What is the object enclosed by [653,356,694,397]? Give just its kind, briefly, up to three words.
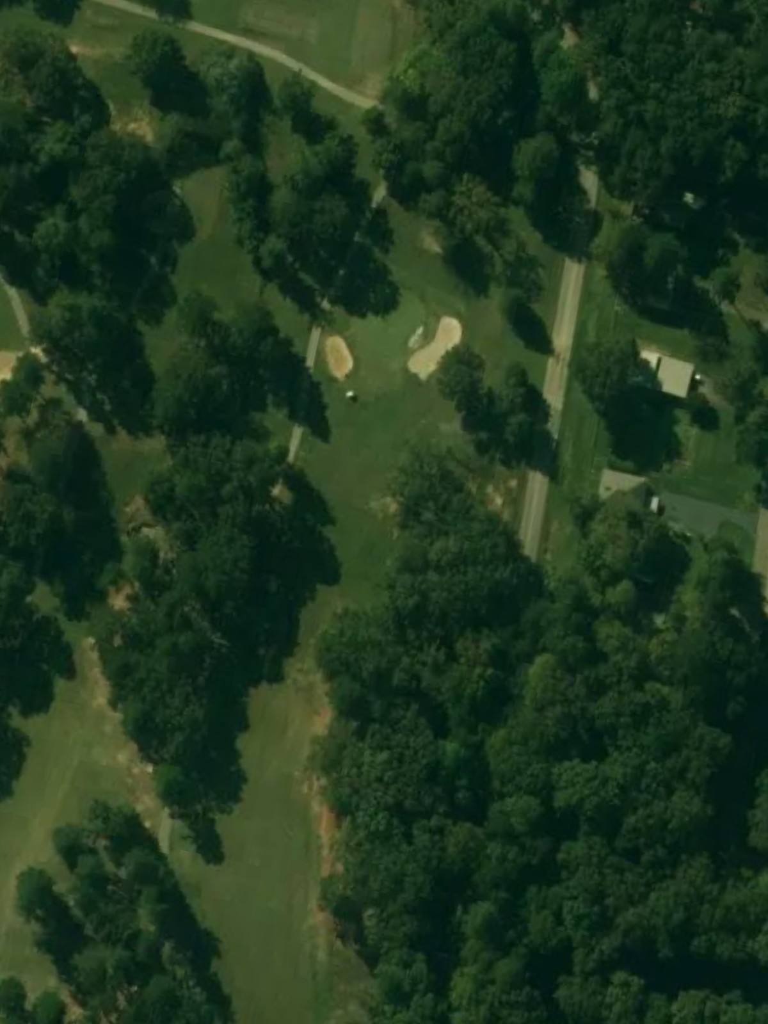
building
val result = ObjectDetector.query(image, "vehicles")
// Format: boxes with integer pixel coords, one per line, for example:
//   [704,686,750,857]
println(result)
[649,495,660,513]
[346,391,356,399]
